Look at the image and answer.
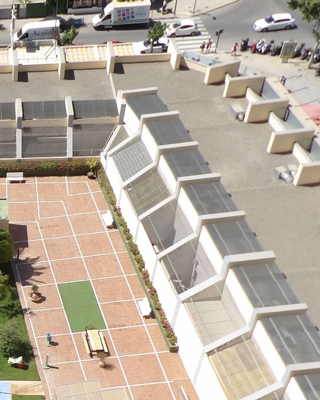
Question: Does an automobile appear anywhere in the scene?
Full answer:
Yes, the frame does contain an automobile.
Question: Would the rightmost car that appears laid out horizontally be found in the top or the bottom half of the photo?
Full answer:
You can find the rightmost car that appears laid out horizontally in the top half.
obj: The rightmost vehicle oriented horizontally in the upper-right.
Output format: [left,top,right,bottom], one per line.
[250,12,298,32]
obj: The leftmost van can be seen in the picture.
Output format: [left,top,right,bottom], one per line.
[12,18,63,46]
